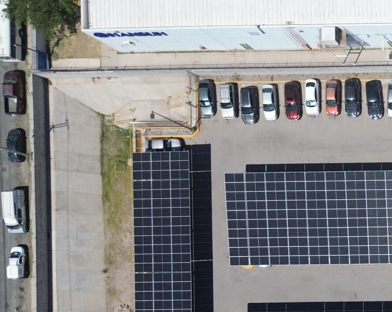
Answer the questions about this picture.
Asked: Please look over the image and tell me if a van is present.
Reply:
Yes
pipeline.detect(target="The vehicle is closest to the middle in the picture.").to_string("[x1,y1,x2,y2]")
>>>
[144,134,182,151]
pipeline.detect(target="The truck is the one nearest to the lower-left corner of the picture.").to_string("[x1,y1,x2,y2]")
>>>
[6,245,29,279]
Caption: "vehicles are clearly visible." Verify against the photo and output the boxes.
[4,129,27,162]
[196,80,217,117]
[217,83,238,119]
[321,79,341,117]
[259,84,279,120]
[364,80,384,120]
[1,70,24,114]
[301,78,320,115]
[385,81,392,118]
[238,87,259,124]
[281,81,302,121]
[342,78,362,118]
[144,134,182,151]
[1,188,30,233]
[6,245,29,279]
